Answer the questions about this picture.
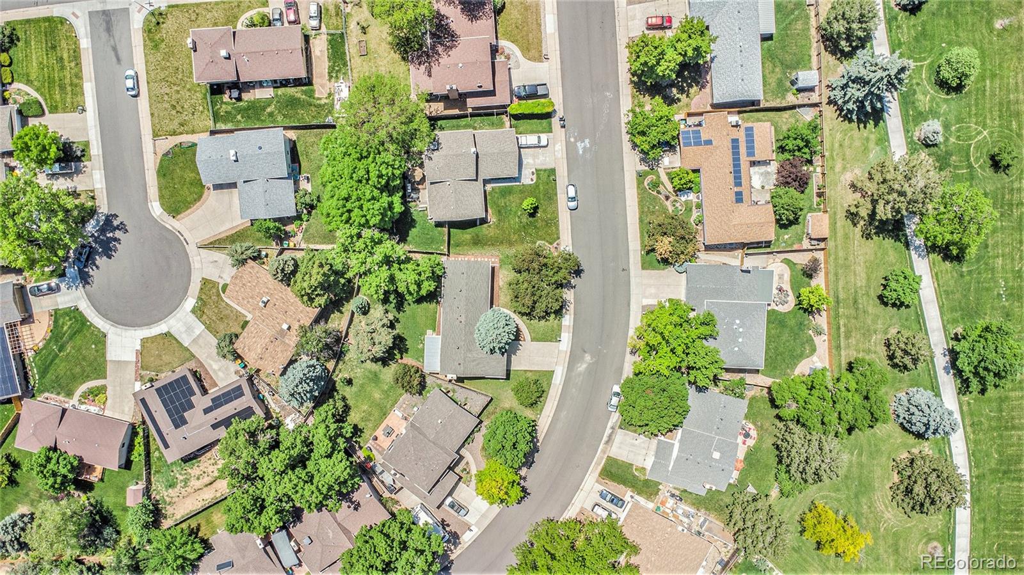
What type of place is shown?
residential area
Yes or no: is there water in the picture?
No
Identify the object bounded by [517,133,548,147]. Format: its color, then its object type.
white car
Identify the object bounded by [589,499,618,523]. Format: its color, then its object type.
white car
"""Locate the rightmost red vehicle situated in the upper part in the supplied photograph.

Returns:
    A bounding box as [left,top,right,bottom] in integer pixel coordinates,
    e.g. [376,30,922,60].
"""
[645,15,673,30]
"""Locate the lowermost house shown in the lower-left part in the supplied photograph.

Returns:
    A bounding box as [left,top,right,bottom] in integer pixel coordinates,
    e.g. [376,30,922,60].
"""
[204,528,287,575]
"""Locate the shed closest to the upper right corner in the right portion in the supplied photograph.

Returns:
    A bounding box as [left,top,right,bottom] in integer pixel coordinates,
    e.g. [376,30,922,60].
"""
[787,71,818,90]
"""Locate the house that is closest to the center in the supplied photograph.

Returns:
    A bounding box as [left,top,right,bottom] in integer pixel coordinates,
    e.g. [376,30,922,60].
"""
[423,260,506,382]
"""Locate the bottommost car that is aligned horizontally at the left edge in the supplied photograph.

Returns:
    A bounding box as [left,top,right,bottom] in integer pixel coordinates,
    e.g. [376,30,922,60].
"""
[30,281,60,296]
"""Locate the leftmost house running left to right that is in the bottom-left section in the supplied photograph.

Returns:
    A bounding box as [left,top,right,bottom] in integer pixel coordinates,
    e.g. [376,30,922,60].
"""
[14,398,135,470]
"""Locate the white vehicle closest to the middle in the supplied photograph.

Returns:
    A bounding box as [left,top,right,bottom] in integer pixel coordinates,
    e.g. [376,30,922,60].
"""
[566,183,578,211]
